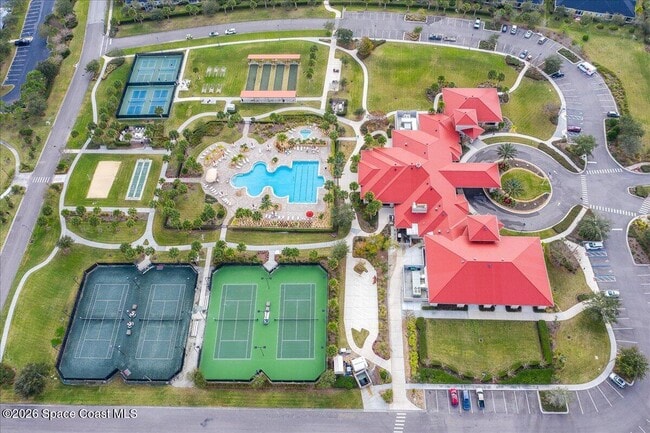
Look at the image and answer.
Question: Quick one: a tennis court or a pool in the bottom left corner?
tennis court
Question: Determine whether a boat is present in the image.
No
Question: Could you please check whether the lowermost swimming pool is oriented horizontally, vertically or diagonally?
horizontally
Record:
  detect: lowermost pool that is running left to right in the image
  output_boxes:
[229,160,326,203]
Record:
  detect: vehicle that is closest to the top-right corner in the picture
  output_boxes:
[576,62,596,74]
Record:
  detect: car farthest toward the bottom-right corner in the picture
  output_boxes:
[607,373,627,389]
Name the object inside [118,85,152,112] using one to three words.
sports court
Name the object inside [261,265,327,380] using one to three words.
tennis court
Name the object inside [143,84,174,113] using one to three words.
sports court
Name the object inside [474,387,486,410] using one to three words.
vehicle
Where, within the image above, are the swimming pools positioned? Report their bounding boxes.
[299,129,313,138]
[229,160,326,203]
